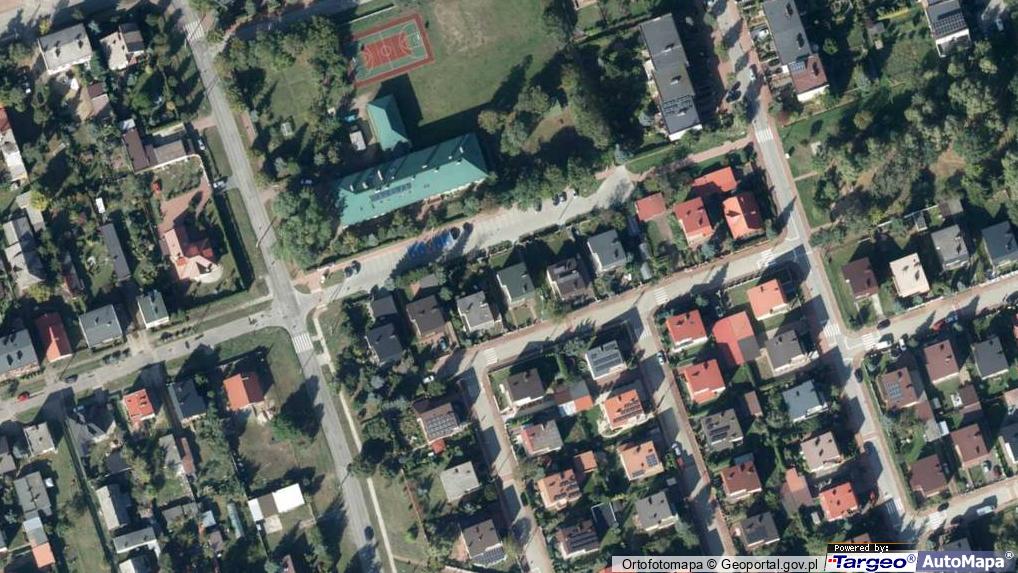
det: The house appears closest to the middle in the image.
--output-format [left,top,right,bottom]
[496,264,535,307]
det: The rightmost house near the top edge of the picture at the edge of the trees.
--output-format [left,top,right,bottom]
[919,0,973,60]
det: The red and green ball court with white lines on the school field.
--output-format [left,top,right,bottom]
[342,14,434,87]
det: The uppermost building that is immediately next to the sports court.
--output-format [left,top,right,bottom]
[366,95,412,151]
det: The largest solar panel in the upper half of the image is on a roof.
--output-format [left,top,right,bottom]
[933,14,964,37]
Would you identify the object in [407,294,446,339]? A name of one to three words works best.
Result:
house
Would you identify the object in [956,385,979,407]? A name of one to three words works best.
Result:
shed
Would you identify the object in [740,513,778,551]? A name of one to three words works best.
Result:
house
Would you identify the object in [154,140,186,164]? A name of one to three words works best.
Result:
building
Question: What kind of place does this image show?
residential area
